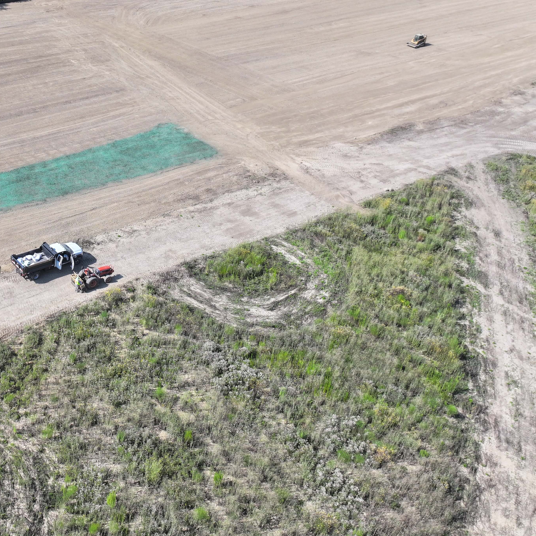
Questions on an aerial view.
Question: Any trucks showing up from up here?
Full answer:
Yes, the image includes a truck.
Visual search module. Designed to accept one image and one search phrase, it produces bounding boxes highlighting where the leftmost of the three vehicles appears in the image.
[9,240,87,282]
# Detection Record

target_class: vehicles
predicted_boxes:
[9,240,87,282]
[78,265,112,291]
[406,31,433,48]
